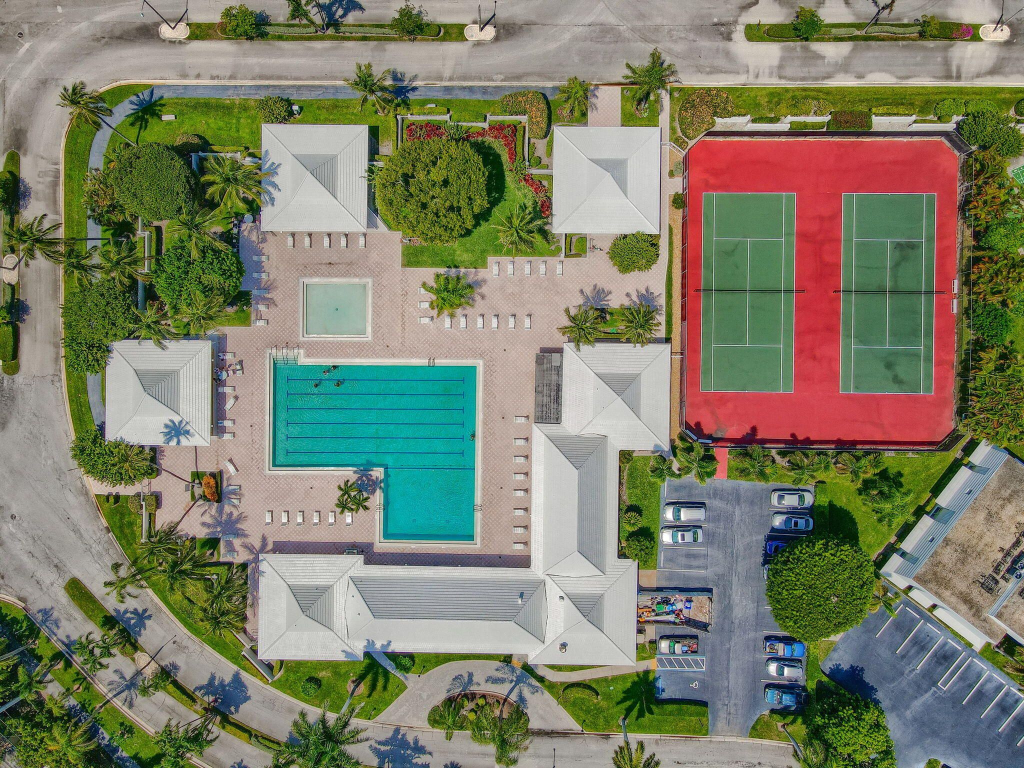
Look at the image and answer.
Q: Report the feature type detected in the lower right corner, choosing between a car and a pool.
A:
car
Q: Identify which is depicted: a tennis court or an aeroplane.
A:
tennis court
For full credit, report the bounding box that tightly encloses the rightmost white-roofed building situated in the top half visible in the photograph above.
[553,126,661,235]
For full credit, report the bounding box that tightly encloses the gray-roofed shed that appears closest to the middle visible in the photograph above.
[535,353,562,423]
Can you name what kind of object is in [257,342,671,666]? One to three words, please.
building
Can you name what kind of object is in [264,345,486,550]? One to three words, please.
swimming pool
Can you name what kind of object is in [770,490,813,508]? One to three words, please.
car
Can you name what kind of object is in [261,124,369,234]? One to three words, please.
building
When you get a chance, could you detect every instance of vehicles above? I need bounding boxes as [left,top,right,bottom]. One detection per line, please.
[771,514,814,532]
[765,685,809,705]
[762,639,807,659]
[664,503,707,522]
[661,527,703,545]
[765,539,806,556]
[765,659,805,678]
[658,637,700,657]
[770,490,813,508]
